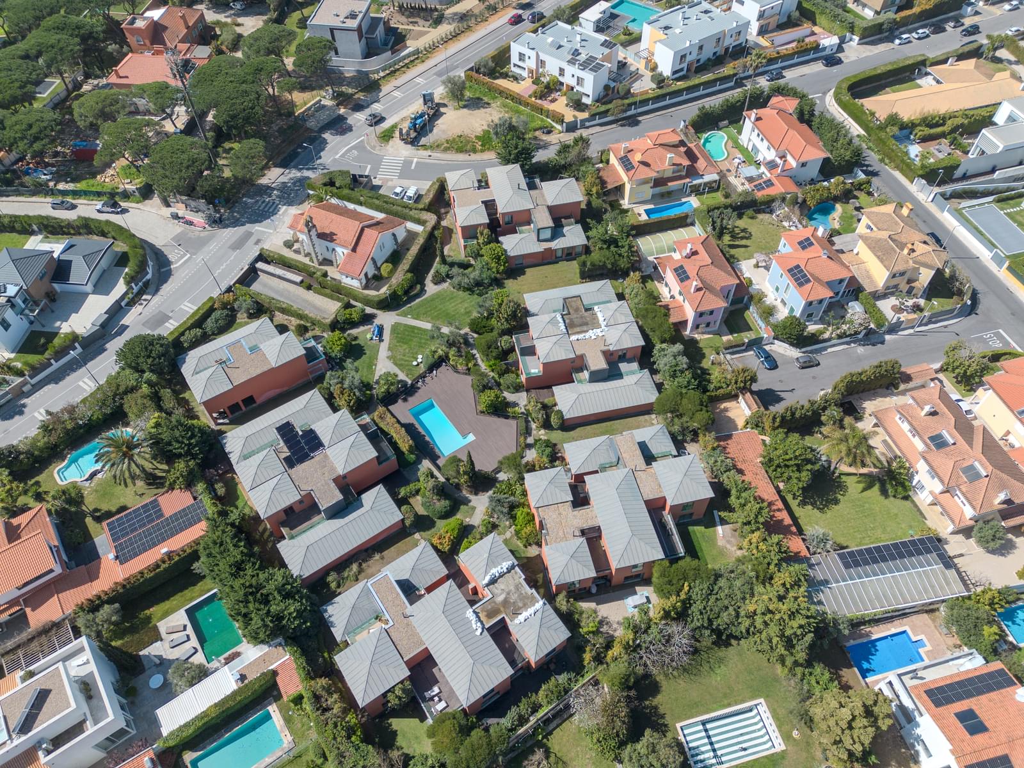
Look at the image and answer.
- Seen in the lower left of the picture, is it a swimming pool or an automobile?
swimming pool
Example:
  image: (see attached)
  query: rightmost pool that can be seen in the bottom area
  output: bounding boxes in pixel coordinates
[997,601,1024,647]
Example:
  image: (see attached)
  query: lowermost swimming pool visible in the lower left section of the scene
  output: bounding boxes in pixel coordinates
[181,701,292,768]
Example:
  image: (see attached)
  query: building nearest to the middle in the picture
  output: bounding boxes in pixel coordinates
[513,280,658,431]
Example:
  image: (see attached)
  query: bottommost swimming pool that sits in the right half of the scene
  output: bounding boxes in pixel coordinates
[675,697,783,768]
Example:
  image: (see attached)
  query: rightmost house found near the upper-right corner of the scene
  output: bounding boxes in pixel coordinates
[948,96,1024,175]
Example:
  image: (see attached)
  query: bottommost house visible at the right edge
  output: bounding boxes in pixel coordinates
[876,651,1024,768]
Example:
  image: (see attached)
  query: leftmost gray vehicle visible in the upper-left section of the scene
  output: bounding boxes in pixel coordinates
[48,198,75,211]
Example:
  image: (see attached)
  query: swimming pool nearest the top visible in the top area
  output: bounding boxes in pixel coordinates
[613,0,664,29]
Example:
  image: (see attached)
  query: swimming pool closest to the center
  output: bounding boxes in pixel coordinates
[409,398,476,458]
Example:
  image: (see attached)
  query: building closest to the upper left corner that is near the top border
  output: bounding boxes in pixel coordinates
[107,0,217,97]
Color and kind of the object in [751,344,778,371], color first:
blue car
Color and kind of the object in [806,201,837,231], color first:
blue swimming pool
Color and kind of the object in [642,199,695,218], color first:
blue swimming pool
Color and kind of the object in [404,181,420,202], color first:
white car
